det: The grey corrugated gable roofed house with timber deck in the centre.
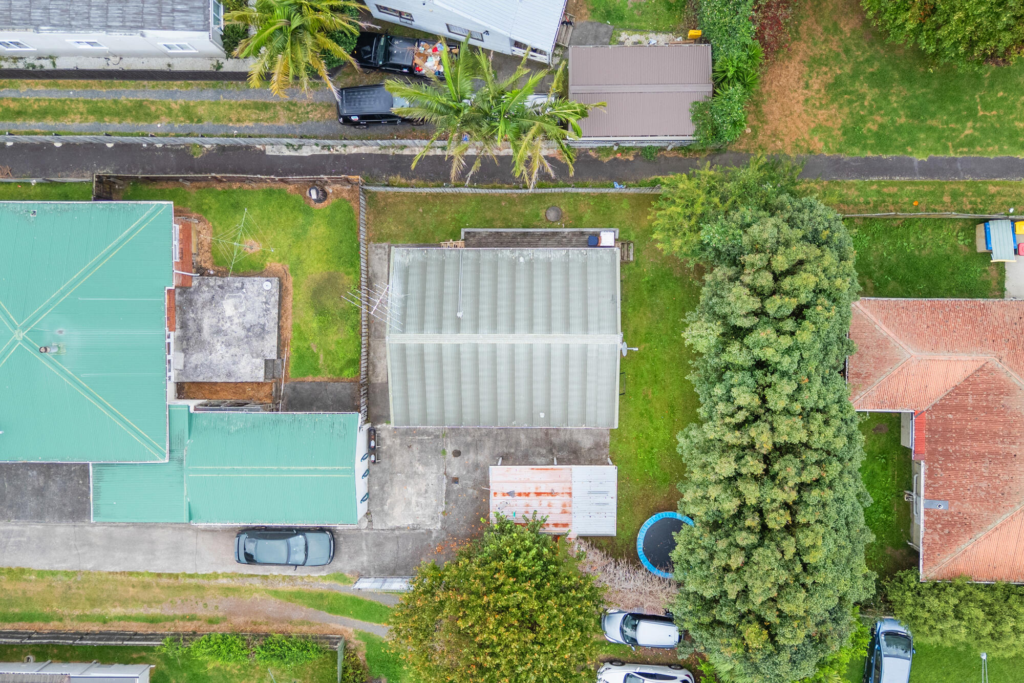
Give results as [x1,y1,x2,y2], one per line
[388,245,623,430]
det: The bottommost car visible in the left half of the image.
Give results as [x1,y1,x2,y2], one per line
[233,526,338,572]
